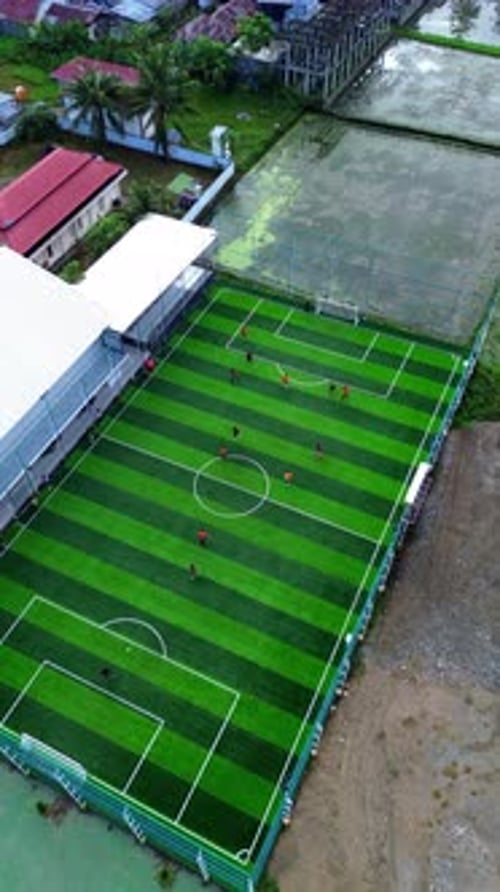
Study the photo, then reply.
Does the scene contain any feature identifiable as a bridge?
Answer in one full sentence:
No, the frame has no bridge in it.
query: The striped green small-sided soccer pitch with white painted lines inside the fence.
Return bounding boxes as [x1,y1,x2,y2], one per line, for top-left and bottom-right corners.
[0,280,470,892]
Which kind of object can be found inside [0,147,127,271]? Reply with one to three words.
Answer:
house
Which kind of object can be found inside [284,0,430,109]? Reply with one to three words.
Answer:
building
